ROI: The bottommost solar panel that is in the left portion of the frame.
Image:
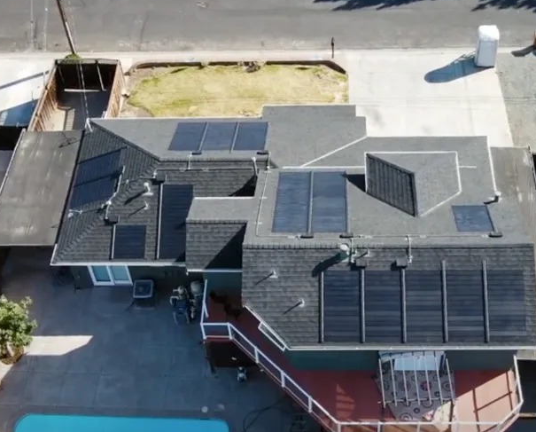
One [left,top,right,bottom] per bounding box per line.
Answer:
[113,225,146,260]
